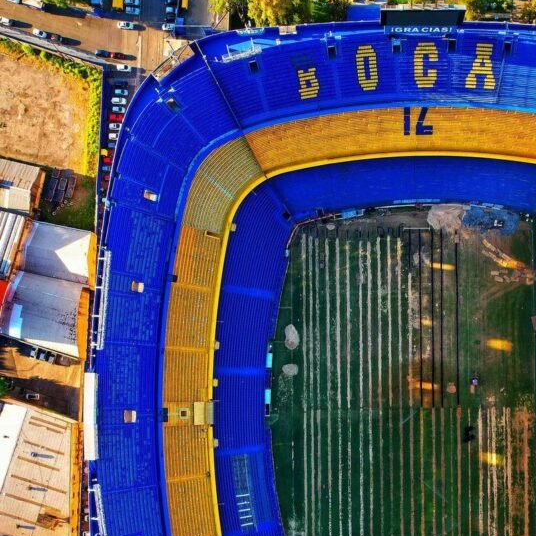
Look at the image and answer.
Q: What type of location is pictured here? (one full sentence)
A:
The picture captures a sports ground.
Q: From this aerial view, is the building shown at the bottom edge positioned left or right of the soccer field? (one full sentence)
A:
Looking at the photo, the building shown at the bottom edge lies to the left of the soccer field.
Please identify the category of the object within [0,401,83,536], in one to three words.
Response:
building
